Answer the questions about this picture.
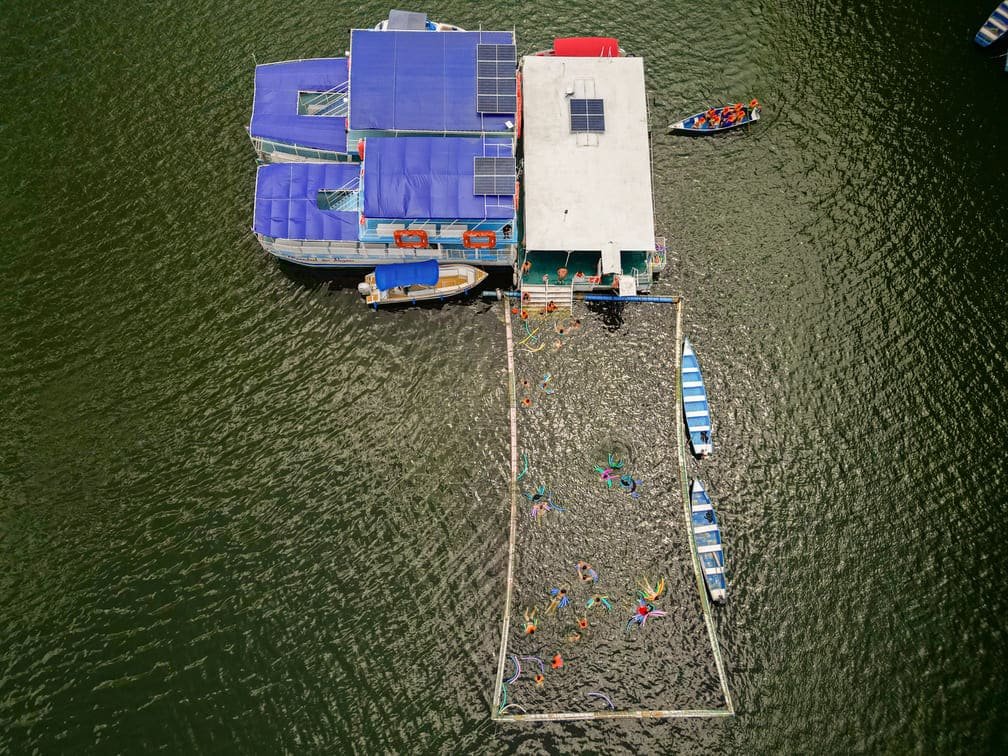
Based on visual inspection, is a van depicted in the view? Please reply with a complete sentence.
No, the photo shows no van.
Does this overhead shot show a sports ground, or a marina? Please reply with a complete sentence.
The picture captures a marina.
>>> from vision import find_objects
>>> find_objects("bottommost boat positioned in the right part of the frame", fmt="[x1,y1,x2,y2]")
[693,478,726,607]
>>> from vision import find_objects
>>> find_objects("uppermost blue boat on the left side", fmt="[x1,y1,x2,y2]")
[243,20,516,170]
